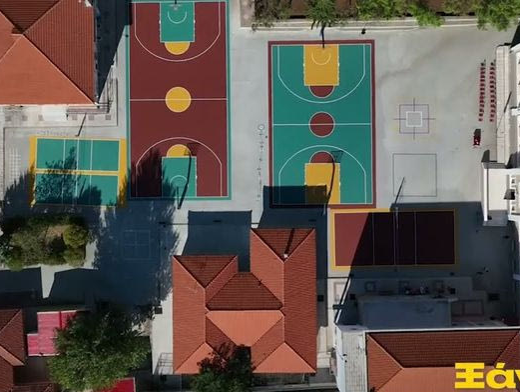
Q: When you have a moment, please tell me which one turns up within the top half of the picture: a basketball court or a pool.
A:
basketball court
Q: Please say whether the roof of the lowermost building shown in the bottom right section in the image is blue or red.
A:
red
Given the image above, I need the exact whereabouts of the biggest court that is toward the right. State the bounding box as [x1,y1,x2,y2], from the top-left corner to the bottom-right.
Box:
[268,40,377,209]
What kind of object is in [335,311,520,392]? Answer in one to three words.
building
